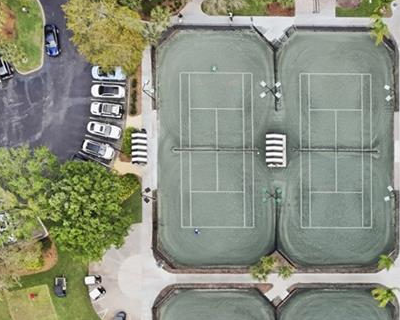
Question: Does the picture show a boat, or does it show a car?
car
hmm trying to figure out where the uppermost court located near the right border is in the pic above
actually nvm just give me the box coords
[276,32,395,267]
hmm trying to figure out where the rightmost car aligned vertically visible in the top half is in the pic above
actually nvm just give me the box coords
[44,23,59,56]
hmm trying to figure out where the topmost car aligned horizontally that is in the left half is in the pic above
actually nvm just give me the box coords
[93,66,127,80]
